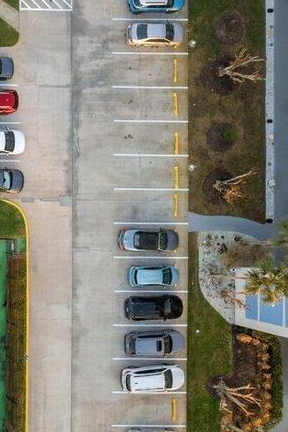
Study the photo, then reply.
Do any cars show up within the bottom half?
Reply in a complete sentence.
Yes, within the bottom half there is a car.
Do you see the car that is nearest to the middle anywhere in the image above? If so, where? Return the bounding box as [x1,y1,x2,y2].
[118,226,178,254]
